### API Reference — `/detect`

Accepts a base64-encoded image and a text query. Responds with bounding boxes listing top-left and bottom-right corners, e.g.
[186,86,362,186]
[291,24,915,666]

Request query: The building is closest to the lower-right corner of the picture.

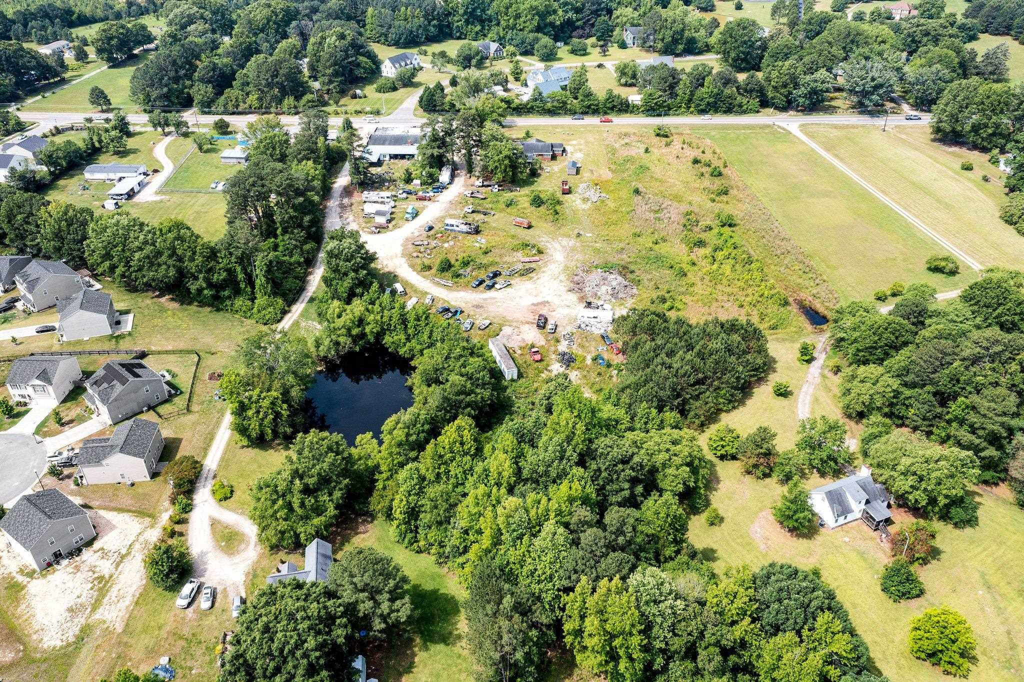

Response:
[803,451,903,532]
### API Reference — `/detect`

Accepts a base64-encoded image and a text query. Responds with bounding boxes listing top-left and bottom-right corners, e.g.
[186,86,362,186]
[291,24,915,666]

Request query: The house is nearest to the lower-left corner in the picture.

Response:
[3,491,96,571]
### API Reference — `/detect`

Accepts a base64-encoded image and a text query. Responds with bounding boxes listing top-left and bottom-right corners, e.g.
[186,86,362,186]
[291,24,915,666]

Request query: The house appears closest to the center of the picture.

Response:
[578,305,615,328]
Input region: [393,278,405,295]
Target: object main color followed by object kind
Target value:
white vehicle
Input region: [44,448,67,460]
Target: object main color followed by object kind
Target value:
white vehicle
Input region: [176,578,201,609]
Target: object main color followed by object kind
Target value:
white truck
